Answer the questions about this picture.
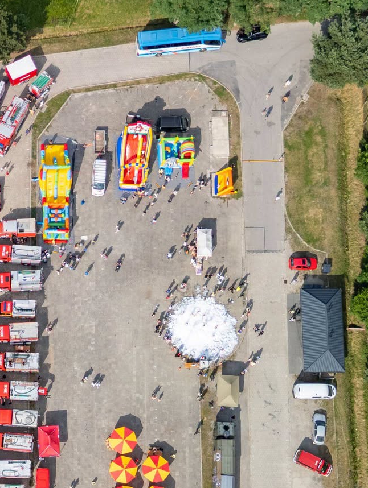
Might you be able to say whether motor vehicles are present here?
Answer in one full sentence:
Yes, a motor vehicle can be made out from above.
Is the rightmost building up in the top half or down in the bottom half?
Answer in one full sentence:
You can find the rightmost building in the bottom half.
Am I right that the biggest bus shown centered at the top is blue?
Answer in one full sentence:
Yes, the biggest bus shown centered at the top is blue.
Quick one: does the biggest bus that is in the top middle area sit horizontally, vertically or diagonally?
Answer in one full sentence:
In this picture, the biggest bus that is in the top middle area is oriented horizontally.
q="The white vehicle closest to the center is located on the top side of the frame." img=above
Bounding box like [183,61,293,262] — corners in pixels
[91,158,107,197]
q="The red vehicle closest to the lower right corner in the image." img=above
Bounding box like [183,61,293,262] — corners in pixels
[291,449,330,475]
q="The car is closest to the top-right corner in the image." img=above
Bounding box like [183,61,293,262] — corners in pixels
[236,25,268,44]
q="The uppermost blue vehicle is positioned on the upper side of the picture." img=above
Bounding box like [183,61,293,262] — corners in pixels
[136,25,228,58]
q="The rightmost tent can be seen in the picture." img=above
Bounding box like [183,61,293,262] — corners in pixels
[214,375,240,408]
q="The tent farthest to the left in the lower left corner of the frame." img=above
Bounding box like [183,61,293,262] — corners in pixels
[38,425,60,456]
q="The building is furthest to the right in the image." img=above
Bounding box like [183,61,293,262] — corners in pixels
[297,288,343,374]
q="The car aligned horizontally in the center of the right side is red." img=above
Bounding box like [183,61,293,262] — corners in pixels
[288,255,318,270]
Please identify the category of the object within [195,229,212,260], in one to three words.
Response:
tent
